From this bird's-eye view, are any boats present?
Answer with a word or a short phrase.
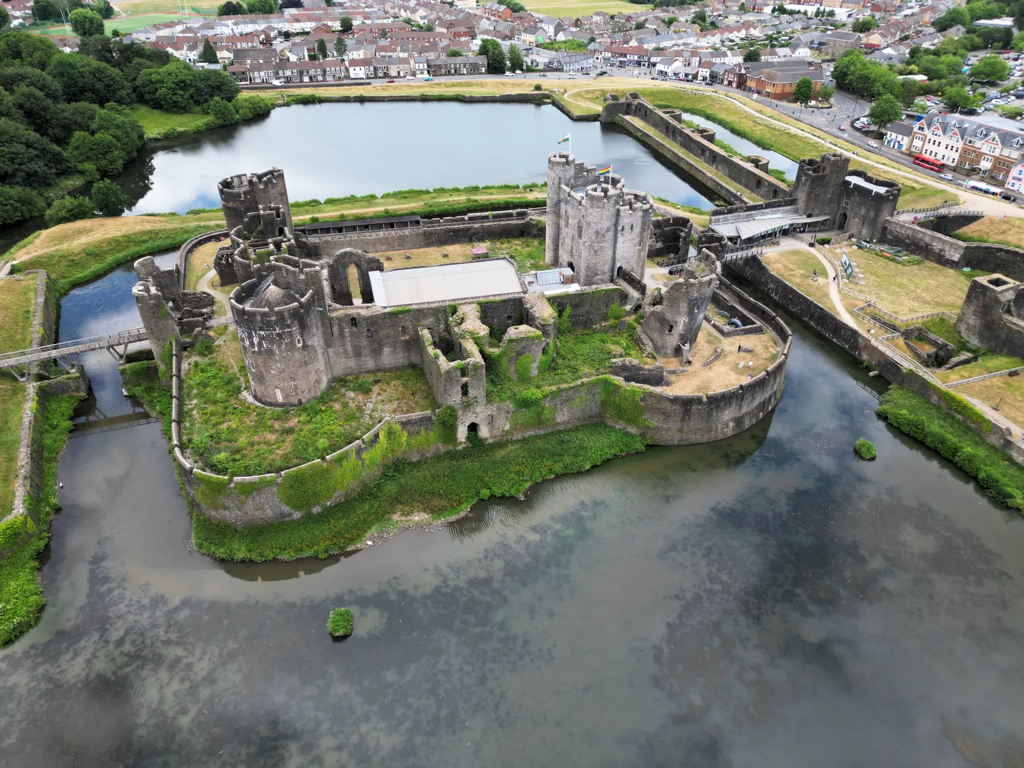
No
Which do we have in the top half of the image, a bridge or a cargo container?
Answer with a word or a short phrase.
bridge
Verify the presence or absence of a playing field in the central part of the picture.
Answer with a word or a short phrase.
No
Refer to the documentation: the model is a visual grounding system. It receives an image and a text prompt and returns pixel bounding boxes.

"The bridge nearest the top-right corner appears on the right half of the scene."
[902,192,974,228]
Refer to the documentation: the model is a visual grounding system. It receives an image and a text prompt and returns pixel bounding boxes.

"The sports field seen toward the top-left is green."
[36,13,194,40]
